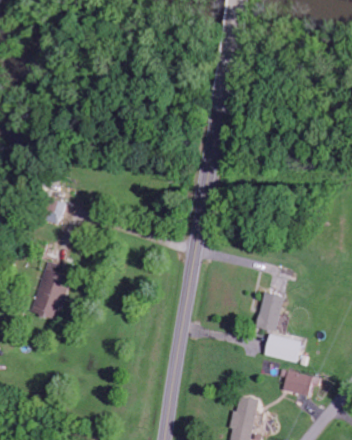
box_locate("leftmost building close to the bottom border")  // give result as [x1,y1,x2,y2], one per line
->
[230,398,258,440]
